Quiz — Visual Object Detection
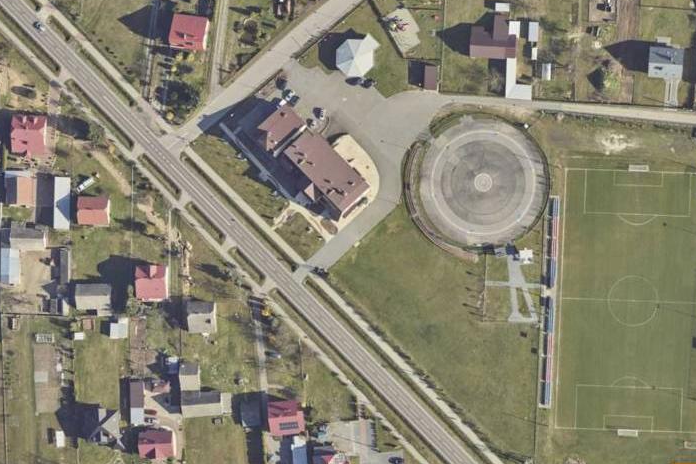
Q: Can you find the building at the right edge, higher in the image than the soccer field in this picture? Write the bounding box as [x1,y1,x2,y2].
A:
[647,46,684,80]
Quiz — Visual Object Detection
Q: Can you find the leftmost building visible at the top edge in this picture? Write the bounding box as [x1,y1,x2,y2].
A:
[168,12,211,53]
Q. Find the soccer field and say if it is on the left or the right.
right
